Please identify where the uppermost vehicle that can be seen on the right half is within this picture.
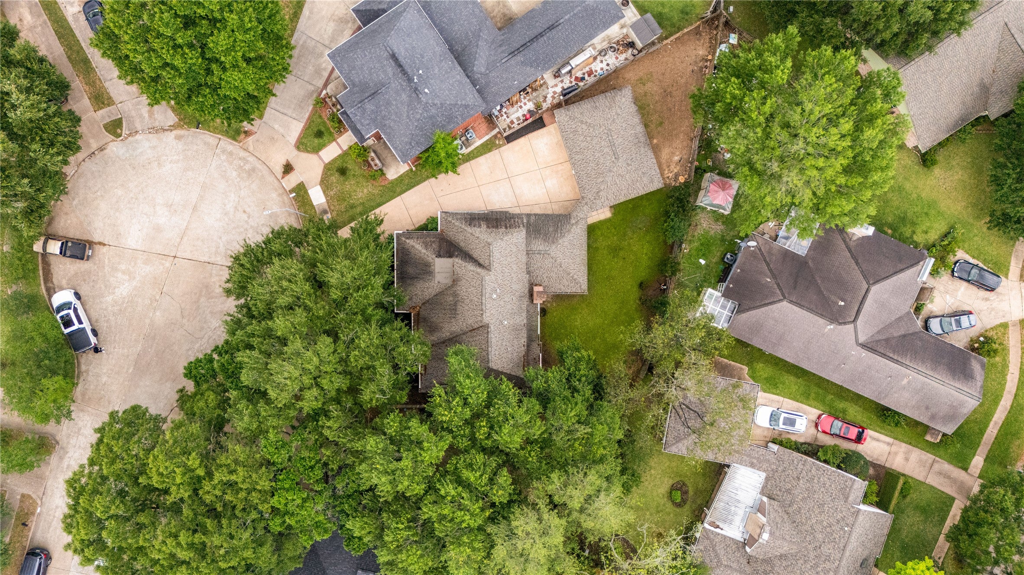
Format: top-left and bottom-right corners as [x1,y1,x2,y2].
[923,306,979,335]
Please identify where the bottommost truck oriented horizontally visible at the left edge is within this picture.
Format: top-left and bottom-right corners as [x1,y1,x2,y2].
[34,234,96,263]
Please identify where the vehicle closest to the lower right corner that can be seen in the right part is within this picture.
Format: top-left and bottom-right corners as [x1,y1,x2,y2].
[813,414,870,445]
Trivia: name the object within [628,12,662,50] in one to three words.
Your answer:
shed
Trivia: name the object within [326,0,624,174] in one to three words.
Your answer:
house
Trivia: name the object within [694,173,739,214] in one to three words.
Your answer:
gazebo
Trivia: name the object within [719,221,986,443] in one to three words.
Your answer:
house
